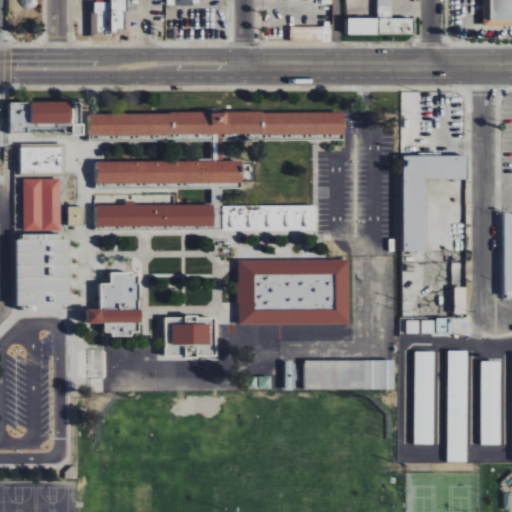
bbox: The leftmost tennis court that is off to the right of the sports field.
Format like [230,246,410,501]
[406,472,442,512]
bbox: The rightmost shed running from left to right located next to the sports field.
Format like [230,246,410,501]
[302,360,392,388]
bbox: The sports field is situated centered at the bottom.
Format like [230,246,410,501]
[76,392,406,512]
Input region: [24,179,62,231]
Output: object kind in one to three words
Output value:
building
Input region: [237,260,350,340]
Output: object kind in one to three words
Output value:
building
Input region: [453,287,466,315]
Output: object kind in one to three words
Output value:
shed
